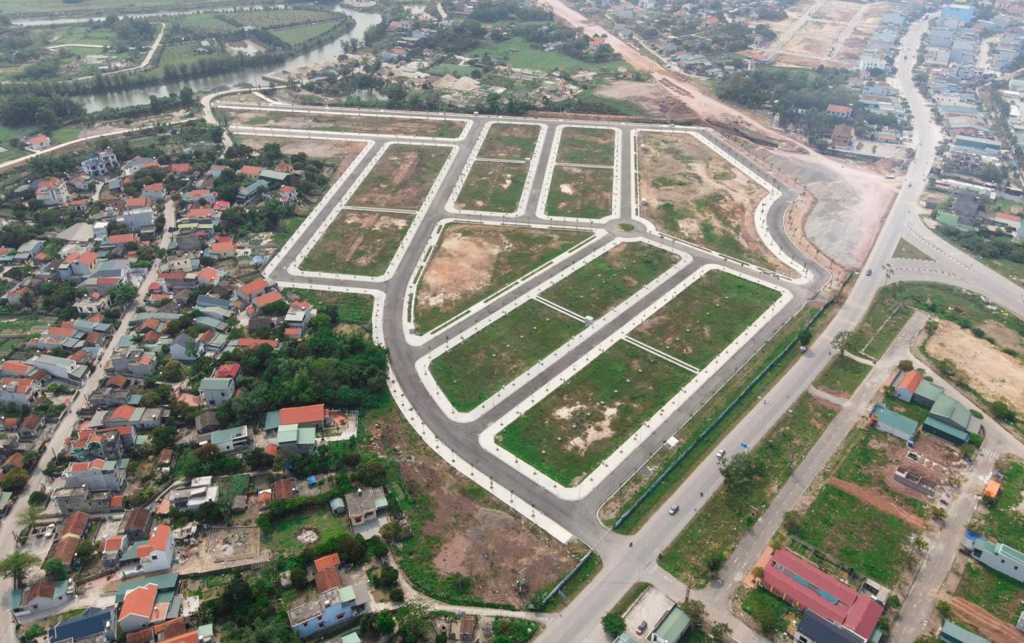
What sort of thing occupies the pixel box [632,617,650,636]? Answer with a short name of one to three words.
car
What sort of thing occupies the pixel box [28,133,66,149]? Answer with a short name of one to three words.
house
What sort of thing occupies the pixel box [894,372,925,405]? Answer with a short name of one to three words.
house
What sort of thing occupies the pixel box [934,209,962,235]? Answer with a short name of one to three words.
shed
